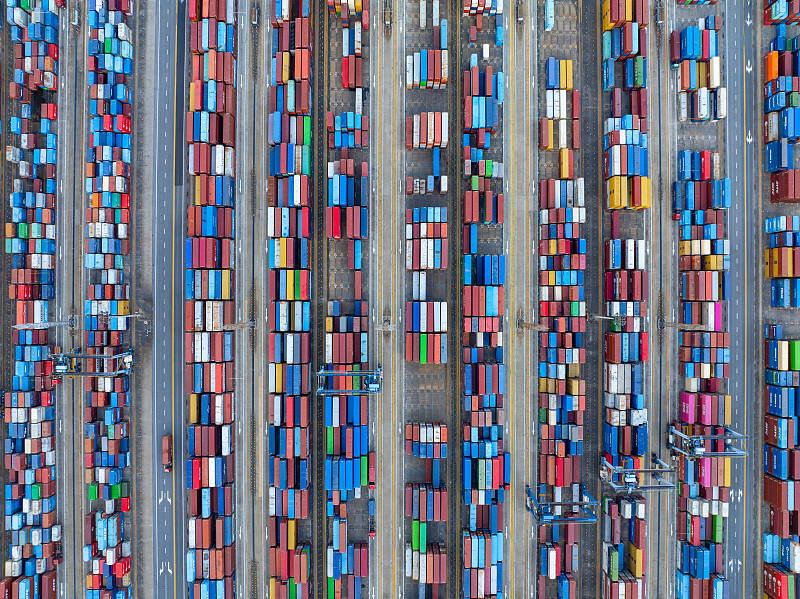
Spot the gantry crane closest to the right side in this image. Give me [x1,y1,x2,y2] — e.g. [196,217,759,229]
[668,424,756,462]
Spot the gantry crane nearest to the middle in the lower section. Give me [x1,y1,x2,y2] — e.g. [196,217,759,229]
[314,363,384,394]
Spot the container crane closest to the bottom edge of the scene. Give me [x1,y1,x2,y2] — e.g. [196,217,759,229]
[526,482,601,526]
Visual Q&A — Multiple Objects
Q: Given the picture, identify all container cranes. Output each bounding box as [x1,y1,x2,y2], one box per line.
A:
[668,424,756,462]
[50,347,134,379]
[526,482,601,526]
[314,363,384,394]
[600,454,678,493]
